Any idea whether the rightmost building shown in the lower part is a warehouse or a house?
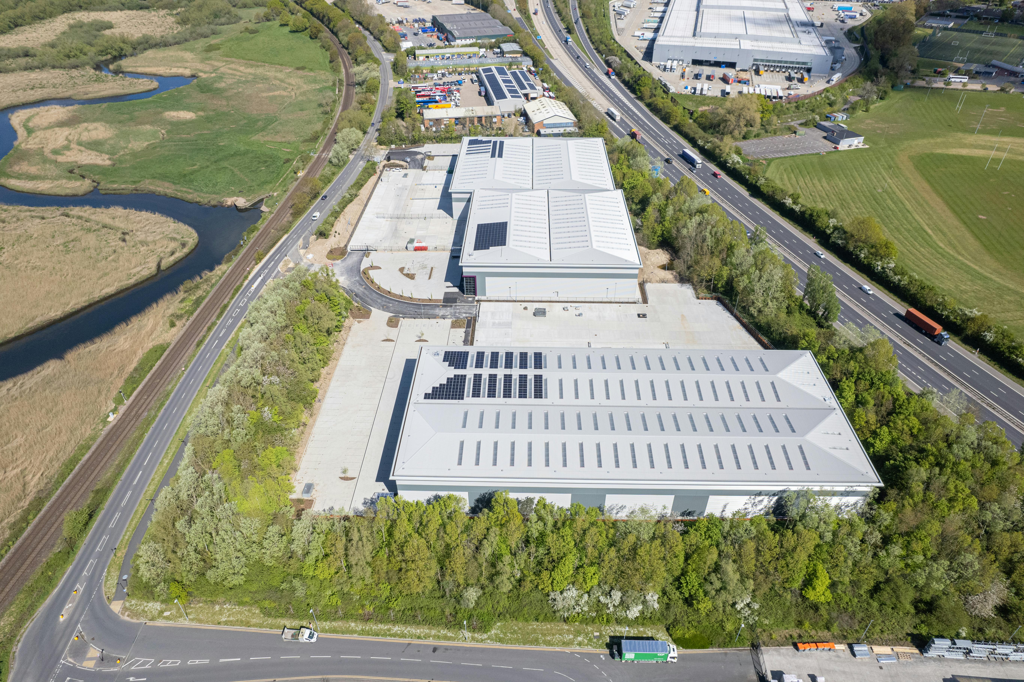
warehouse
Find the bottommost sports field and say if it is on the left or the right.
right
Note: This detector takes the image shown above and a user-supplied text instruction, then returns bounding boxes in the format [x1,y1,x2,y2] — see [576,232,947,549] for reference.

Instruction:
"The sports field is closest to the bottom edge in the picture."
[763,88,1024,371]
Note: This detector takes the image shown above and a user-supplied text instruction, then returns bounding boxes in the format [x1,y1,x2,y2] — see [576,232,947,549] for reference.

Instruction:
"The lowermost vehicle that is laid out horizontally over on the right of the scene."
[624,640,680,662]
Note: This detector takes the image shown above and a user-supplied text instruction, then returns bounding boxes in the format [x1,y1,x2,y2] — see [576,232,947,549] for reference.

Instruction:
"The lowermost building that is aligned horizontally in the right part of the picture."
[389,346,885,519]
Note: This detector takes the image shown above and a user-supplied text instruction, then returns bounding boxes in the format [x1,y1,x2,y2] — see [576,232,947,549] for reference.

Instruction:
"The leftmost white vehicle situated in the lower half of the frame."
[281,626,316,644]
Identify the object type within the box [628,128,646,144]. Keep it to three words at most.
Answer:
vehicle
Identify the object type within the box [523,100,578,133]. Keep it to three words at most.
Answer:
shed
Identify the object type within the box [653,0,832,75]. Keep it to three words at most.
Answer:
building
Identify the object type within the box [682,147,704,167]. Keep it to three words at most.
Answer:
vehicle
